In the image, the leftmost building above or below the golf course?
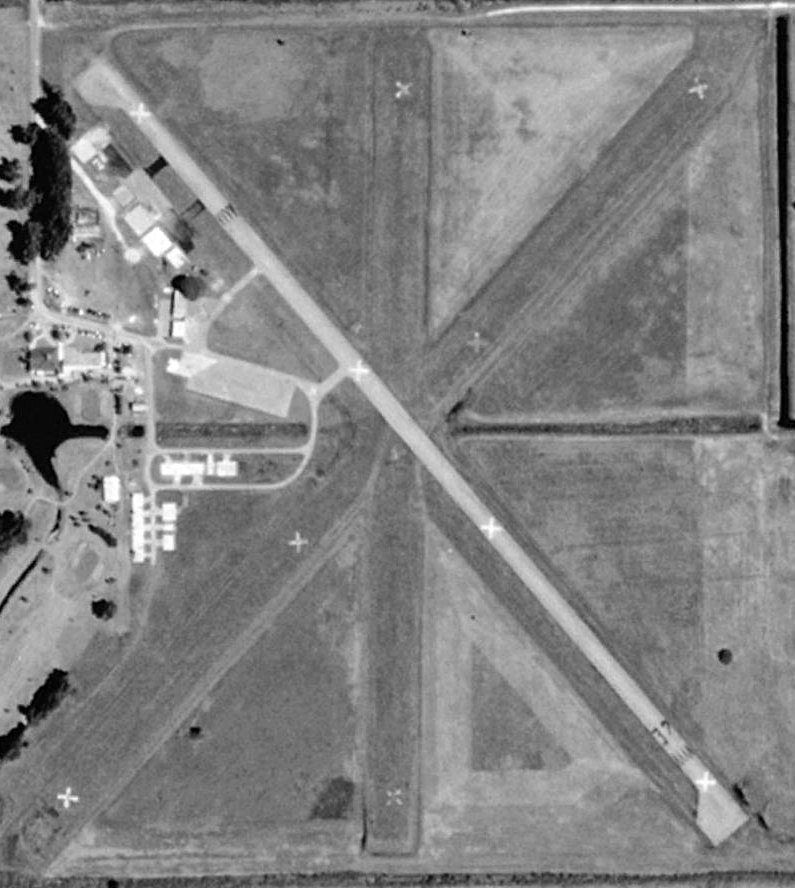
above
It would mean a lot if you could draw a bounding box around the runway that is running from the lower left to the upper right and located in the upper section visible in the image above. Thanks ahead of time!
[405,29,762,414]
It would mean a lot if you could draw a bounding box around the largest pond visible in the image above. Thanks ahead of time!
[2,391,108,490]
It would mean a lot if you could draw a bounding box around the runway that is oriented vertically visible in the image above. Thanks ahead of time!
[362,28,429,853]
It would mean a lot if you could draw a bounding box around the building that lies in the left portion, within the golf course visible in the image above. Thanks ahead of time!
[103,475,120,502]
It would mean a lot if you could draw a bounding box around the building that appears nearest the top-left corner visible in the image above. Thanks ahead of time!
[71,138,96,162]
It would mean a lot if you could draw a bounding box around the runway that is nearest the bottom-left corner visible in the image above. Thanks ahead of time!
[2,431,390,866]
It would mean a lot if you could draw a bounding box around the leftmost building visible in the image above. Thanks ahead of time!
[30,348,56,370]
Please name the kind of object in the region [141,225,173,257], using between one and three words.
hangar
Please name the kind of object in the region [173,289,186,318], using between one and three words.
building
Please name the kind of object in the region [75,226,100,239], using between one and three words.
house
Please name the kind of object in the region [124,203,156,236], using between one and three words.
hangar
